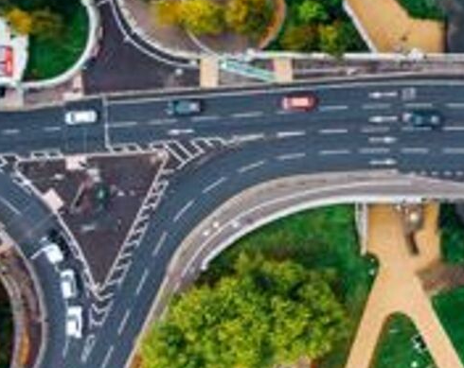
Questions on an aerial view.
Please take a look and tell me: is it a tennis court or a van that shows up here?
van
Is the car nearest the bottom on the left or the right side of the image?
left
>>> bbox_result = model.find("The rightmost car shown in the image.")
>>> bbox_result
[405,111,440,128]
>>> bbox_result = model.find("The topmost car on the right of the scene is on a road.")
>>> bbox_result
[283,95,316,111]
